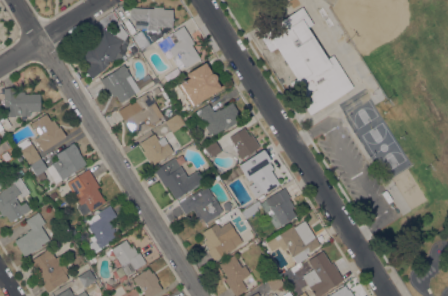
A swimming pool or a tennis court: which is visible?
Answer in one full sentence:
I can see a swimming pool in this picture.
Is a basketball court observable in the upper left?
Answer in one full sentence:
No, there is no basketball court in the upper left.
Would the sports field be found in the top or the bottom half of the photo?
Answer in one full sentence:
The sports field is in the top half of the image.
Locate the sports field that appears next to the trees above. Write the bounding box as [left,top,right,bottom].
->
[329,0,448,202]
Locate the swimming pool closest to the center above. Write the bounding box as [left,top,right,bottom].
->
[214,156,234,168]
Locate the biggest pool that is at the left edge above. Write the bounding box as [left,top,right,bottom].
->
[14,125,33,142]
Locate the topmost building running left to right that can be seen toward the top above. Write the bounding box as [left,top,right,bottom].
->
[130,8,174,29]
